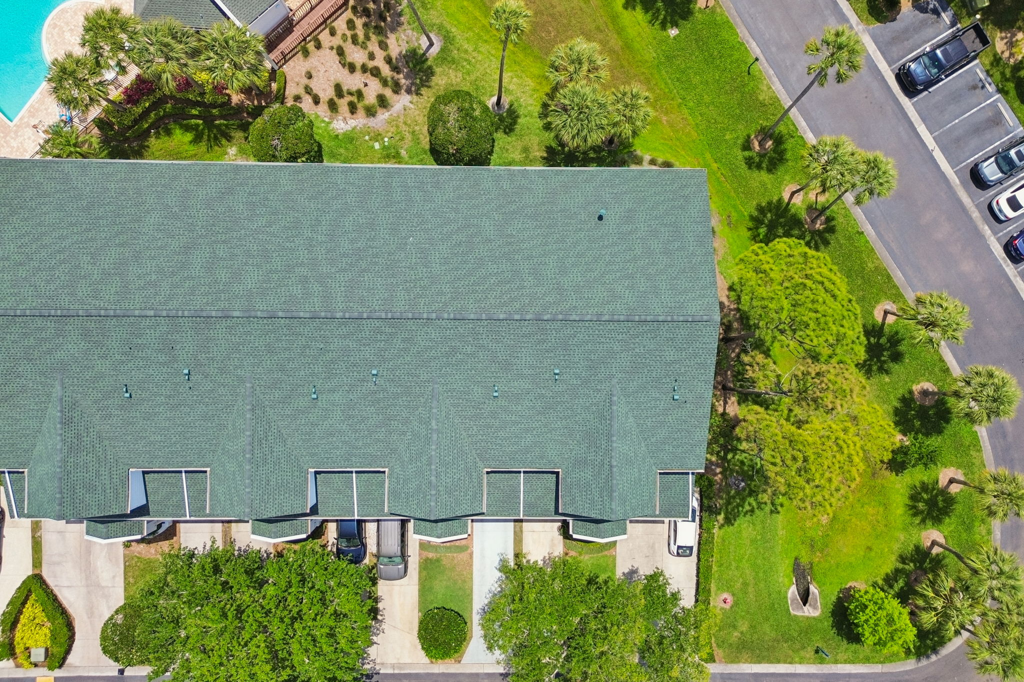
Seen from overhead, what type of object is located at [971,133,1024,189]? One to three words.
car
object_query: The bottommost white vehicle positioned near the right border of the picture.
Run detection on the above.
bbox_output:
[990,182,1024,225]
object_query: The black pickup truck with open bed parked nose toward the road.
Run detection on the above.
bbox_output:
[895,20,992,95]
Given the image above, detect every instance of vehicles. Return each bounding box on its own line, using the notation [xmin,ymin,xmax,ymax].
[990,182,1024,225]
[373,520,410,580]
[895,20,992,95]
[971,133,1024,189]
[1005,229,1024,263]
[668,493,704,558]
[329,520,365,564]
